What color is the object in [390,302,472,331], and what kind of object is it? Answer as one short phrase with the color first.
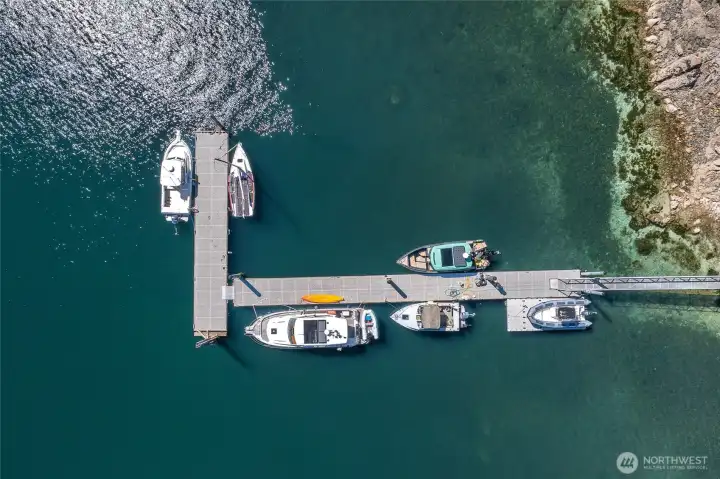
white boat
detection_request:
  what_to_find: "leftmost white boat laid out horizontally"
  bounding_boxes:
[245,308,373,350]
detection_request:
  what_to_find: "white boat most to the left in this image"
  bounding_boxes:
[161,129,194,230]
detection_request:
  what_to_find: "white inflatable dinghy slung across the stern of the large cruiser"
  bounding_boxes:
[362,309,379,346]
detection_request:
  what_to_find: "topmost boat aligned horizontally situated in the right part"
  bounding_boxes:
[397,241,499,274]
